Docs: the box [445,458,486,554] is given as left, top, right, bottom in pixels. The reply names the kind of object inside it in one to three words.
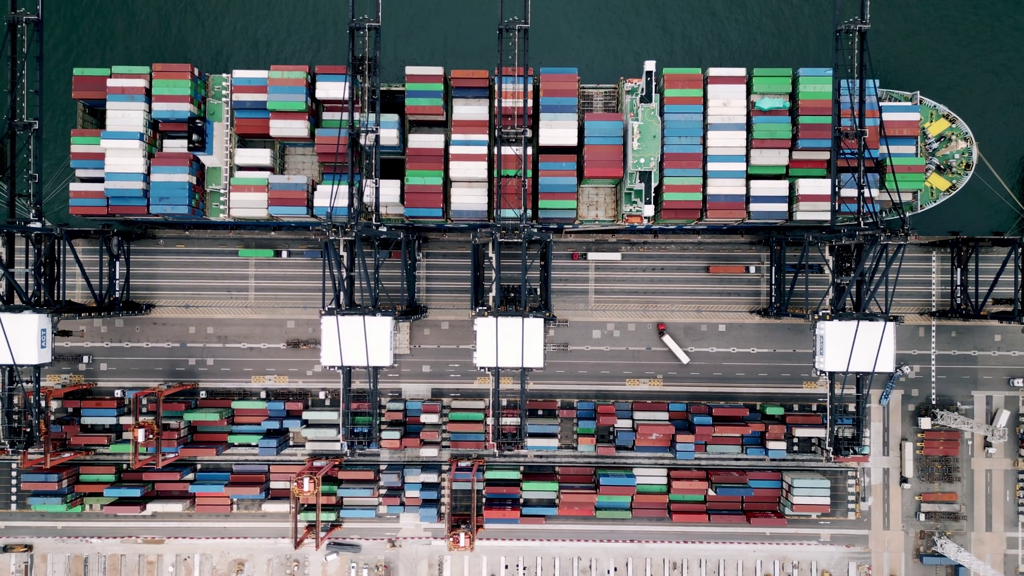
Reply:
container crane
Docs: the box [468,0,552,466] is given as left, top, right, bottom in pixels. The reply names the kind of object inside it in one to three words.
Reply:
container crane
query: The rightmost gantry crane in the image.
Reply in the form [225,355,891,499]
[920,223,1024,318]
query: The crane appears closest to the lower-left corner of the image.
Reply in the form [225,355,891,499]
[19,379,96,468]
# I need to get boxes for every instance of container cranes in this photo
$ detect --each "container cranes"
[468,0,552,466]
[289,457,343,552]
[445,458,486,554]
[0,0,149,461]
[920,223,1024,318]
[750,0,917,469]
[319,0,429,464]
[130,380,197,469]
[19,379,96,468]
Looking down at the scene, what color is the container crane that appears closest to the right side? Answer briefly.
black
